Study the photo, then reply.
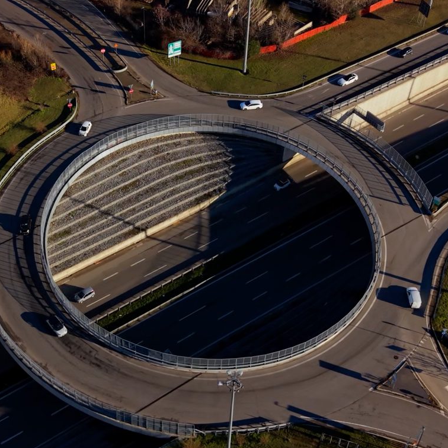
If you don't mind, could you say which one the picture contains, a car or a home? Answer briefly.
car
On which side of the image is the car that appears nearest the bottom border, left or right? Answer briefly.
left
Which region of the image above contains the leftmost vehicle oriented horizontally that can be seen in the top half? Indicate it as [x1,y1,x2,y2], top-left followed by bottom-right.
[239,99,263,111]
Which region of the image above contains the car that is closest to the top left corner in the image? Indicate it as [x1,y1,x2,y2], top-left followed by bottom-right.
[78,120,92,138]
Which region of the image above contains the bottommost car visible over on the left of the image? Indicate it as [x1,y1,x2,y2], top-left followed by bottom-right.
[44,312,68,338]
